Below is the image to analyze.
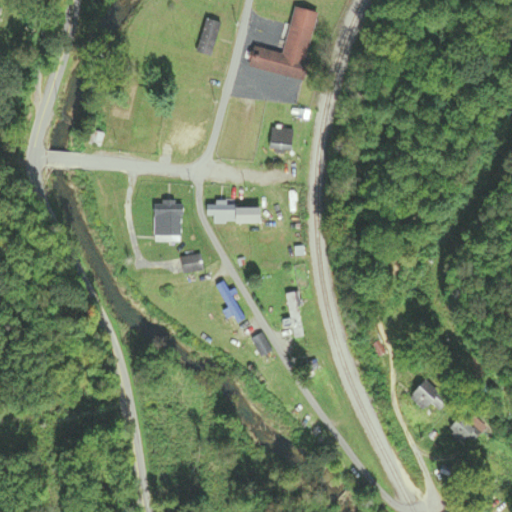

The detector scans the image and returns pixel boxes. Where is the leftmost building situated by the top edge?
[196,17,220,54]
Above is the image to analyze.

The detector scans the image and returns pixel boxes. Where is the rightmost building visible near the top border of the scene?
[246,5,318,78]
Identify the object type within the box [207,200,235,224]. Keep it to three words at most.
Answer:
house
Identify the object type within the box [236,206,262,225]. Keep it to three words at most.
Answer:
building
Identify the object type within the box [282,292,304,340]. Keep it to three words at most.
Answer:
house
